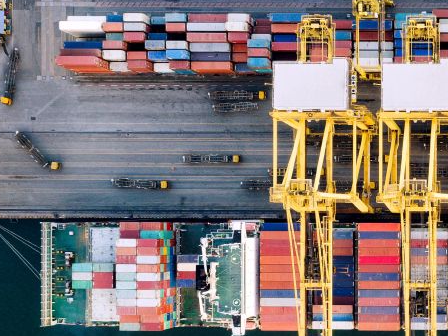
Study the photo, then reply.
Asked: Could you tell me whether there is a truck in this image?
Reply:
Yes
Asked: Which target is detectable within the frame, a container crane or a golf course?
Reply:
container crane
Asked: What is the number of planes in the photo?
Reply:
0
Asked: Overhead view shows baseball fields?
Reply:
No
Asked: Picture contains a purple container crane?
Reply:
No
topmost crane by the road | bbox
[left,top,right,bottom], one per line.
[352,0,398,81]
